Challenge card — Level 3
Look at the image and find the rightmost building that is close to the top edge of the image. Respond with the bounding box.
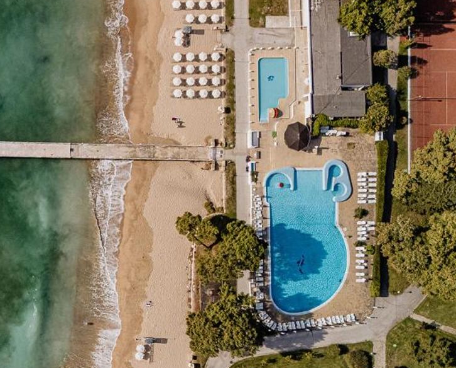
[302,0,372,119]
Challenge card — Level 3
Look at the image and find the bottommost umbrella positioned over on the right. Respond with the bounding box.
[283,124,309,150]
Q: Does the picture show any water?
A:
Yes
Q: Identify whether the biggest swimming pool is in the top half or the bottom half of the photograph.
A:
bottom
